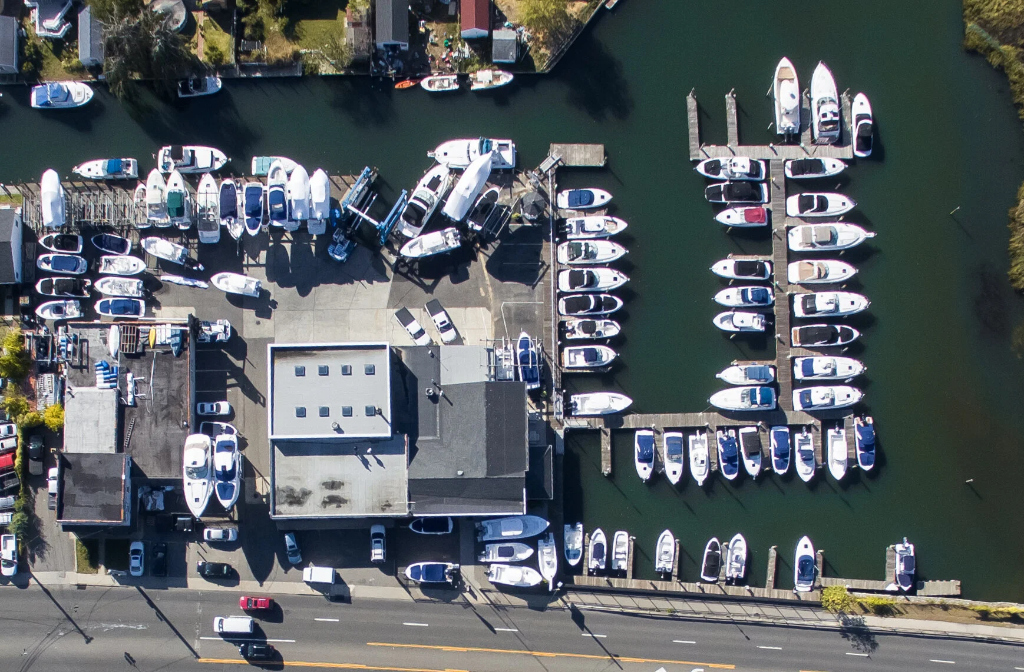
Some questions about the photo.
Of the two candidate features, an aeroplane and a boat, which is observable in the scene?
boat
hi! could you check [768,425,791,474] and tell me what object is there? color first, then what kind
blue boat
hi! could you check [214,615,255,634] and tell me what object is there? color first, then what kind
white vehicle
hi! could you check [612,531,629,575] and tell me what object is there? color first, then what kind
white boat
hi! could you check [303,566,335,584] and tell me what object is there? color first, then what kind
white vehicle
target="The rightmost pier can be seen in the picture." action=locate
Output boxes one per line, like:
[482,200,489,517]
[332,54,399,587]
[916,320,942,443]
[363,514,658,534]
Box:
[916,580,961,596]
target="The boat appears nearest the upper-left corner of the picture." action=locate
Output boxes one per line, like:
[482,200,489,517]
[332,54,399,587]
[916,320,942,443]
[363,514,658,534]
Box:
[31,81,96,109]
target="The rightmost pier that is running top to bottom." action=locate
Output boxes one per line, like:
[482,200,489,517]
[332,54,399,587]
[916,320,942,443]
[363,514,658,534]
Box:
[733,158,840,413]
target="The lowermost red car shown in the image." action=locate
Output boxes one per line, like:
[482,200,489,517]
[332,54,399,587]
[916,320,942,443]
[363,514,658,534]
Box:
[240,595,274,611]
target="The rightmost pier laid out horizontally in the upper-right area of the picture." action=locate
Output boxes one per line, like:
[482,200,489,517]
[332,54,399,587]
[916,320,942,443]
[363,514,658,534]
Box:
[687,86,855,160]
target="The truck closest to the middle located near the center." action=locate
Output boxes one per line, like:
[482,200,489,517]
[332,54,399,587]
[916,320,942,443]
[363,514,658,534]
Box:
[427,300,457,346]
